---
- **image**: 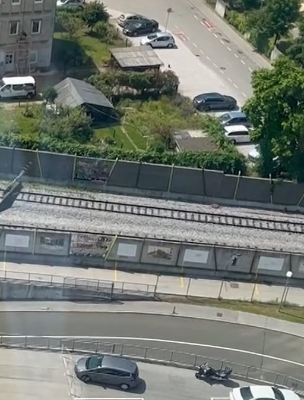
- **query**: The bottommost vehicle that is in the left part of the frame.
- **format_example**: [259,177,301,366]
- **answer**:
[74,353,142,391]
